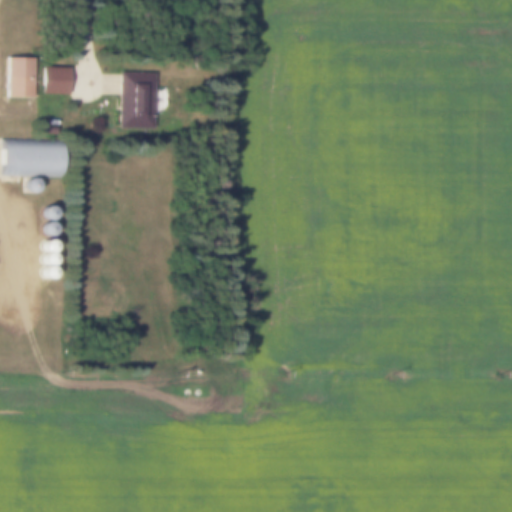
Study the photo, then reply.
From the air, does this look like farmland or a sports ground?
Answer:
farmland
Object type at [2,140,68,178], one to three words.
barn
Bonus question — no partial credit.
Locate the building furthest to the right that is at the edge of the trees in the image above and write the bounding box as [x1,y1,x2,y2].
[116,70,168,128]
